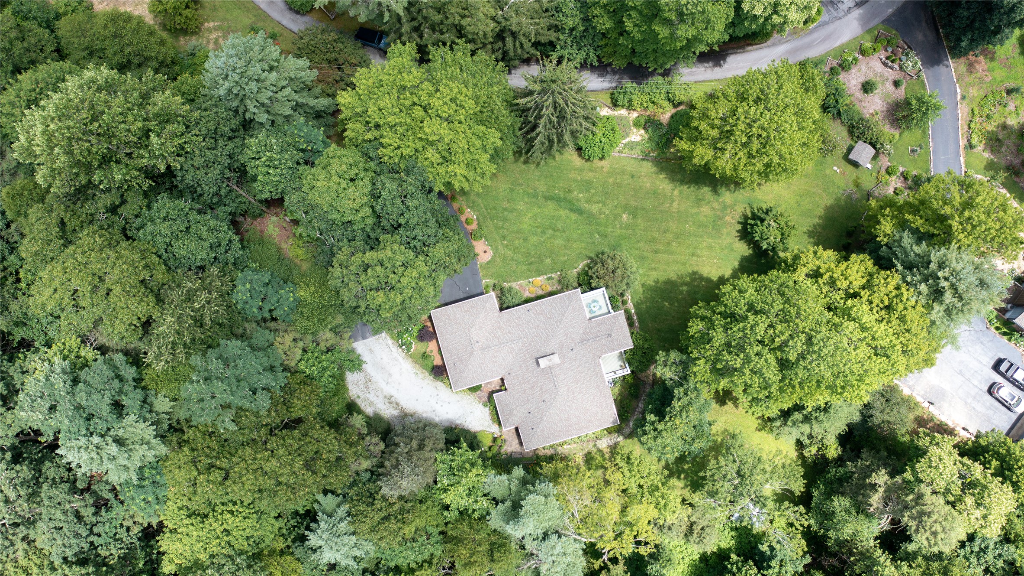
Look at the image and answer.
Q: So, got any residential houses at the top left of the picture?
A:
No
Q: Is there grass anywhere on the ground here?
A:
Yes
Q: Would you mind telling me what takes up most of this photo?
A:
trees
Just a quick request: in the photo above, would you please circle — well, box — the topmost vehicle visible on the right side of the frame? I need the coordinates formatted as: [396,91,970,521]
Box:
[998,354,1024,391]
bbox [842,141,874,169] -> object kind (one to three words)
shed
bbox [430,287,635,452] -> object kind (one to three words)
house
